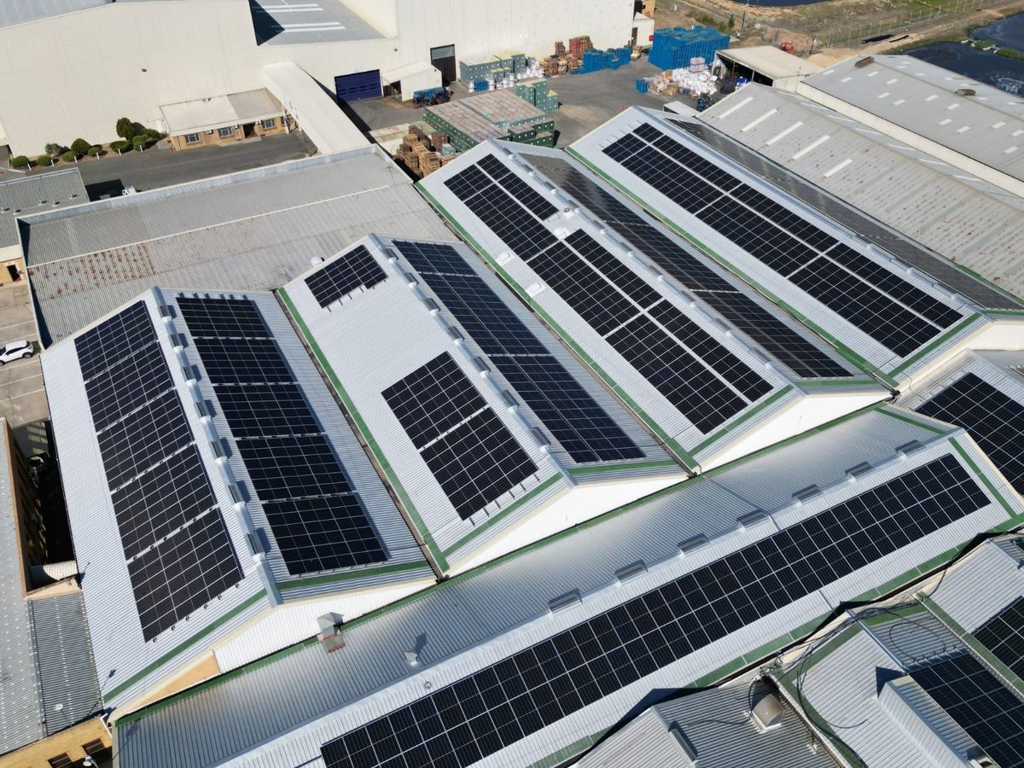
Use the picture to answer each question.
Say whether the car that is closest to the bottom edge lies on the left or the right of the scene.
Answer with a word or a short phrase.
left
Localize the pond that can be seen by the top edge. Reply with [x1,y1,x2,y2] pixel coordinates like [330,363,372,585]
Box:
[887,11,1024,104]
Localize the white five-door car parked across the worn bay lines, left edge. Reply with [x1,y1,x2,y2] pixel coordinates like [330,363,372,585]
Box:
[0,335,34,363]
